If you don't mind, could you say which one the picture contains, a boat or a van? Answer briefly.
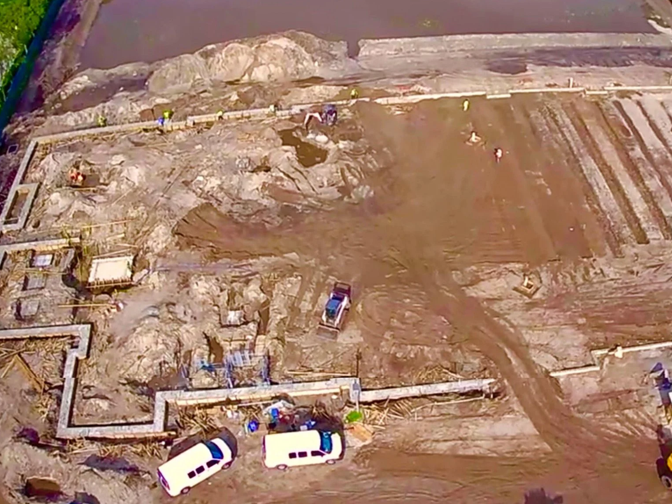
van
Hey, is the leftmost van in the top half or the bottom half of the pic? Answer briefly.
bottom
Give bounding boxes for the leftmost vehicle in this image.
[151,443,242,504]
